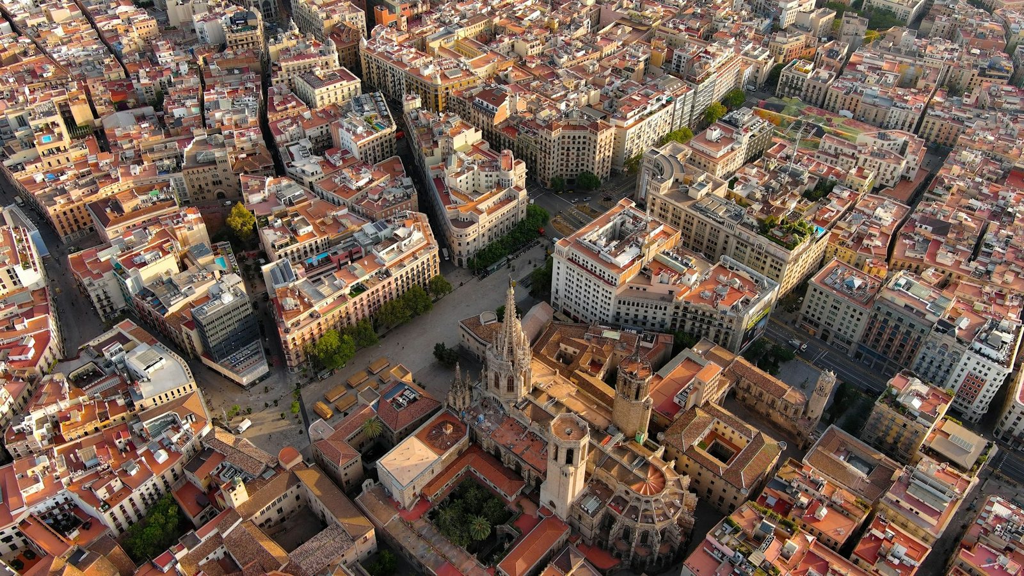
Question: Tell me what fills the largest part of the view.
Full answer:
What you mostly see from above here is buildings.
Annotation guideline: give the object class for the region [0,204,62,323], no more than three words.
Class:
house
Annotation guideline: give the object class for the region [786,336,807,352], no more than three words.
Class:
vehicle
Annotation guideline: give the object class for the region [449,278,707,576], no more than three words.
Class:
church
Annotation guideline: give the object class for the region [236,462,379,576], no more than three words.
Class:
building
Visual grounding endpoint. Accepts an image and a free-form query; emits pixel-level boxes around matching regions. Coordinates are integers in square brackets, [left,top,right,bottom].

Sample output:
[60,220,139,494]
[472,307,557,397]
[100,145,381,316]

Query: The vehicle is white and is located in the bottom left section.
[234,417,252,431]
